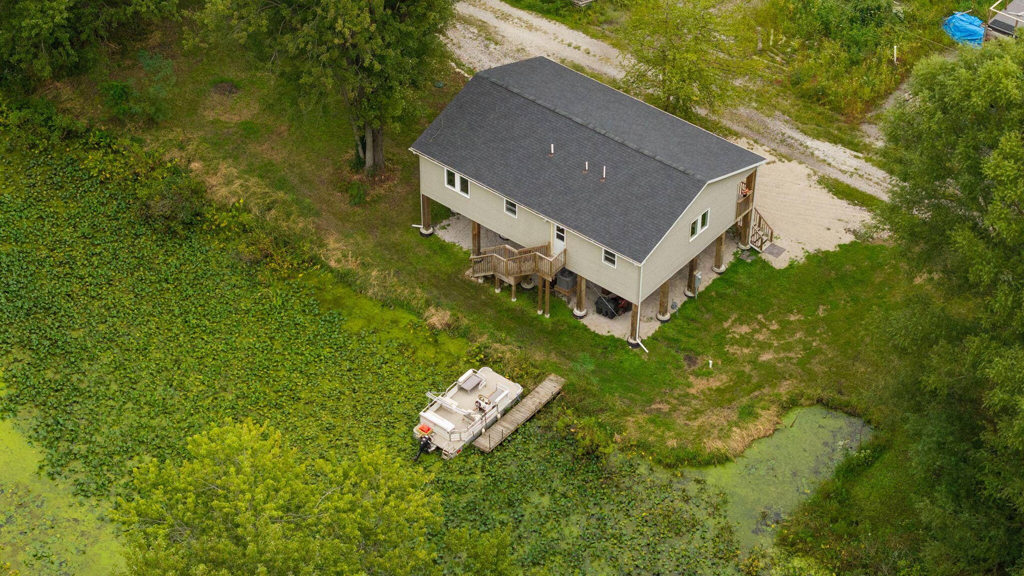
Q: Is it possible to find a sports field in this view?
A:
No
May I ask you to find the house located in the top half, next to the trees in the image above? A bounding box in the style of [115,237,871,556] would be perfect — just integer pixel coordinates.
[407,56,769,352]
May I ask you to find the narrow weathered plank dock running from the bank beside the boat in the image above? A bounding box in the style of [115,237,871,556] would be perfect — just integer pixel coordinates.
[476,374,572,461]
